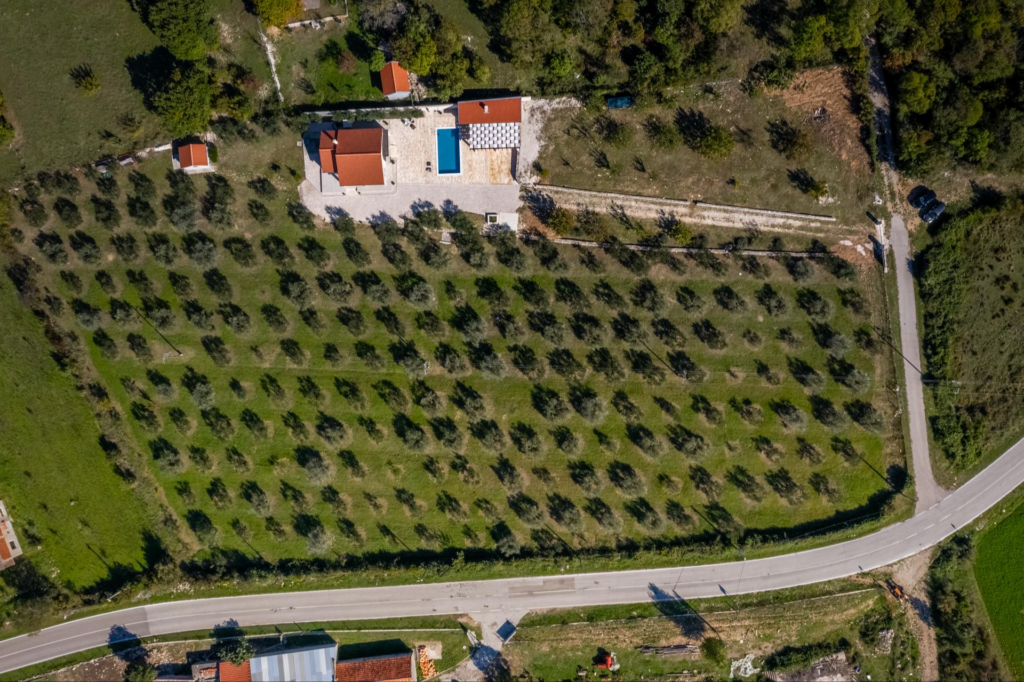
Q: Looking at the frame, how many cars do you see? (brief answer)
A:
two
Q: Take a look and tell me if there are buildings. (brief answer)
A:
Yes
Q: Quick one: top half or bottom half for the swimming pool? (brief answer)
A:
top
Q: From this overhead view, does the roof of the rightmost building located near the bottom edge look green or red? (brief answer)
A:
red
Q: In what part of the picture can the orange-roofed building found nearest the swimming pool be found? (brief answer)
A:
top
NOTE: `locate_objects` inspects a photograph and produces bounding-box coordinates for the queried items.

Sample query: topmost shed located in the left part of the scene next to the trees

[380,61,410,97]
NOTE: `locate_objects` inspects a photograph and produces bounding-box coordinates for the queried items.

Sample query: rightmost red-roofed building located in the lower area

[338,650,417,682]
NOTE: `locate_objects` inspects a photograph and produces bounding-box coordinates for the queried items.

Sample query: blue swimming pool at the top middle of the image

[432,124,462,177]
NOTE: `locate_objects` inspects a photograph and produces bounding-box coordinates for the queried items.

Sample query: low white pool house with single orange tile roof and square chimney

[458,97,522,126]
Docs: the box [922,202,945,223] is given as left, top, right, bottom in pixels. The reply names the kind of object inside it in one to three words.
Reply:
car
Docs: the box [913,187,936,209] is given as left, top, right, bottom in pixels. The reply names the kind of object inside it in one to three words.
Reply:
car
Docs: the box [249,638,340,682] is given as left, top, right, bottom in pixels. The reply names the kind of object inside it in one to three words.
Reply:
barn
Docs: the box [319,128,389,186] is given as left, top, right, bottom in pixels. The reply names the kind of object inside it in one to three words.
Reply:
house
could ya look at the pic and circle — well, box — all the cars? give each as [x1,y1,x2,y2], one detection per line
[922,202,945,223]
[913,187,936,209]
